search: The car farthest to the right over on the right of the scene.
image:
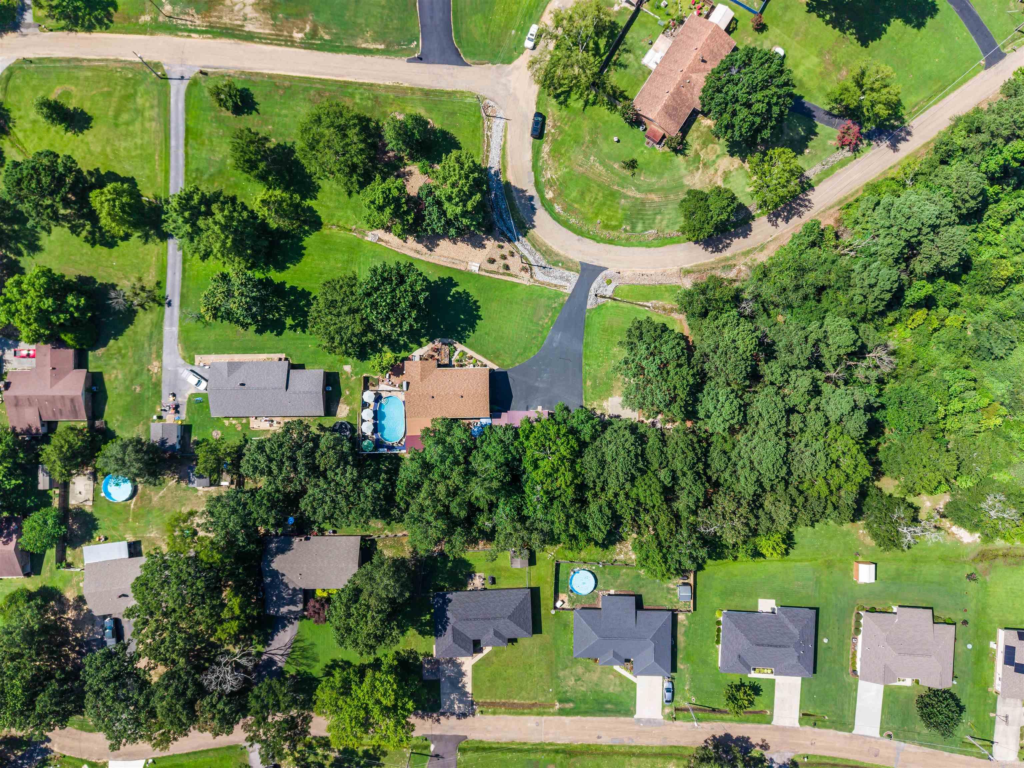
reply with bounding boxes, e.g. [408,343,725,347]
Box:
[663,679,675,707]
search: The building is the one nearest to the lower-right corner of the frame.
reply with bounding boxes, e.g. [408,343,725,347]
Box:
[993,627,1024,699]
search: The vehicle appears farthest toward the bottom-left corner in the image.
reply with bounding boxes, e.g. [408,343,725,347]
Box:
[102,617,117,650]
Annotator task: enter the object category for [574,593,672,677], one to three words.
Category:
house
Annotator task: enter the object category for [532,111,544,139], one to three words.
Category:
vehicle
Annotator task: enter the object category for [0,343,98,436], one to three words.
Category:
house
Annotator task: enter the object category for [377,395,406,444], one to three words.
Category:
swimming pool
